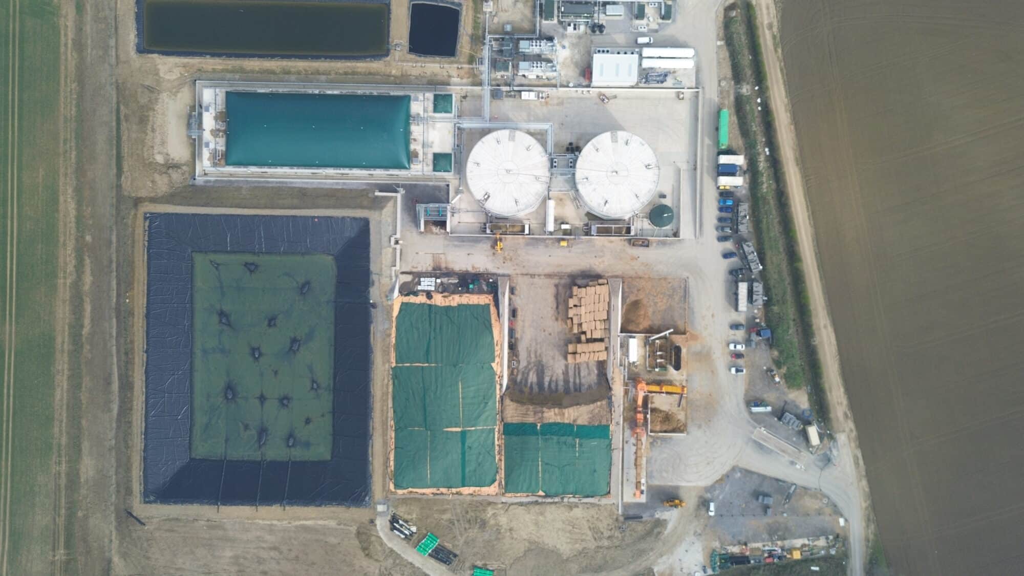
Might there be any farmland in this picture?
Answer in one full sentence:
Yes, farmland shows up in the scene.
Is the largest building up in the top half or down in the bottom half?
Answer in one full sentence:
The largest building sits in the top half of the picture.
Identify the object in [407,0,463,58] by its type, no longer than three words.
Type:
pond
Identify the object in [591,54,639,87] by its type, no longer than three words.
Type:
building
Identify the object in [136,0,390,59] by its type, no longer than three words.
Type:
pond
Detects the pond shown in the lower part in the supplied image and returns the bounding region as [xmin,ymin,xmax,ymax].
[144,213,372,512]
